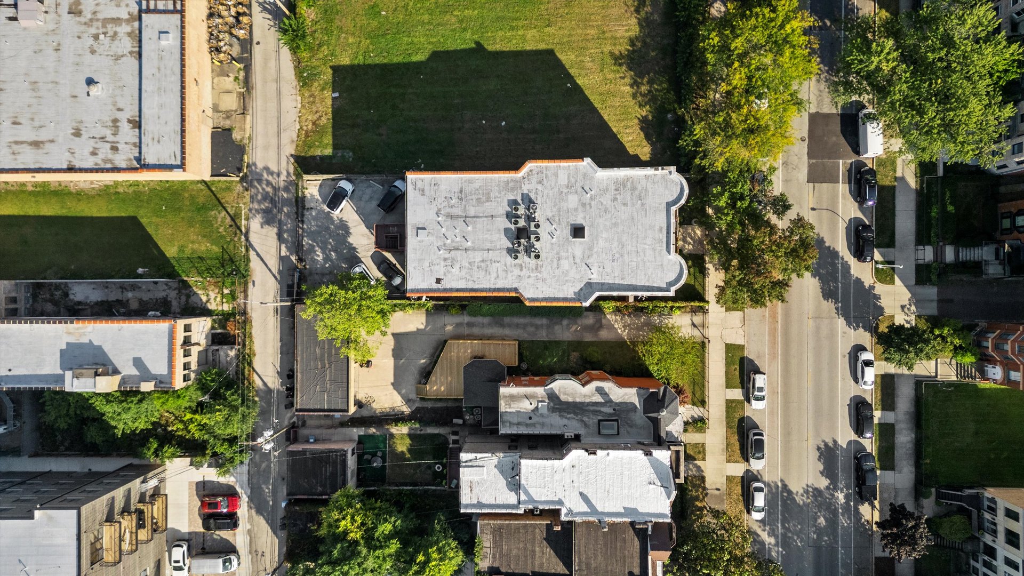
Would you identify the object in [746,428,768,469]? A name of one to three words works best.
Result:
car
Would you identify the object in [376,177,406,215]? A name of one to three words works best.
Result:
car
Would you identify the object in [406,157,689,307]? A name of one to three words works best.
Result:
house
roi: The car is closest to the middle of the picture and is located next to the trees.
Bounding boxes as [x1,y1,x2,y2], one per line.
[372,253,405,289]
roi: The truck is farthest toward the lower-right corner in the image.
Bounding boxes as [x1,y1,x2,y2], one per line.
[852,449,876,500]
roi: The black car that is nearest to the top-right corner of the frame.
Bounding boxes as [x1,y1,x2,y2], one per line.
[854,167,877,208]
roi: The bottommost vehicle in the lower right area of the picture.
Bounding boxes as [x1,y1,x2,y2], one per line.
[748,480,768,520]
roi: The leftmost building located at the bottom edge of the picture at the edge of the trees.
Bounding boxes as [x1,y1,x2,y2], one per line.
[0,464,165,576]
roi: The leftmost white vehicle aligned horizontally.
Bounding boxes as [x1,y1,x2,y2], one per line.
[188,550,241,575]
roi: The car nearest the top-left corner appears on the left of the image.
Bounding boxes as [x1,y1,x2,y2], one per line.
[325,178,356,215]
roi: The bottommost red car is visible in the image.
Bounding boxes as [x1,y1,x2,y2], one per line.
[201,494,242,514]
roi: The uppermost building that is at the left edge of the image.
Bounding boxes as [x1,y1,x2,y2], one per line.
[0,0,210,181]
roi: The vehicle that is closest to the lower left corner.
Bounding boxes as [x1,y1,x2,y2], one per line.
[170,539,192,576]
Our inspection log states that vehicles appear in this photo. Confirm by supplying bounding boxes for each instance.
[188,550,241,575]
[201,494,242,514]
[348,256,381,292]
[170,539,192,576]
[748,480,768,520]
[376,177,406,215]
[853,400,875,439]
[854,111,881,158]
[372,253,405,289]
[854,167,877,208]
[747,371,768,410]
[852,225,875,263]
[746,428,768,469]
[325,178,356,215]
[203,512,241,533]
[852,449,876,500]
[854,350,875,389]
